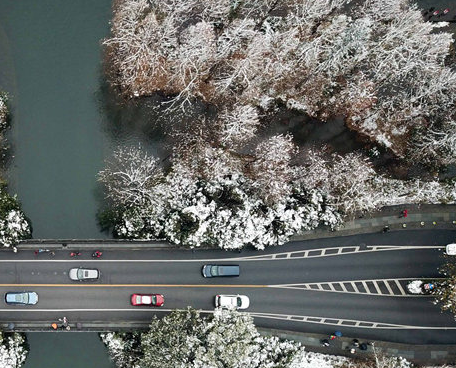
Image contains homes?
No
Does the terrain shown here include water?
Yes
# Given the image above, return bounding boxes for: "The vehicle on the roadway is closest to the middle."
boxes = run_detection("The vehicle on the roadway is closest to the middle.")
[200,262,241,279]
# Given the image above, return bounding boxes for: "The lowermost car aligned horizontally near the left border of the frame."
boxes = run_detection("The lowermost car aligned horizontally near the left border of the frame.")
[5,290,39,307]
